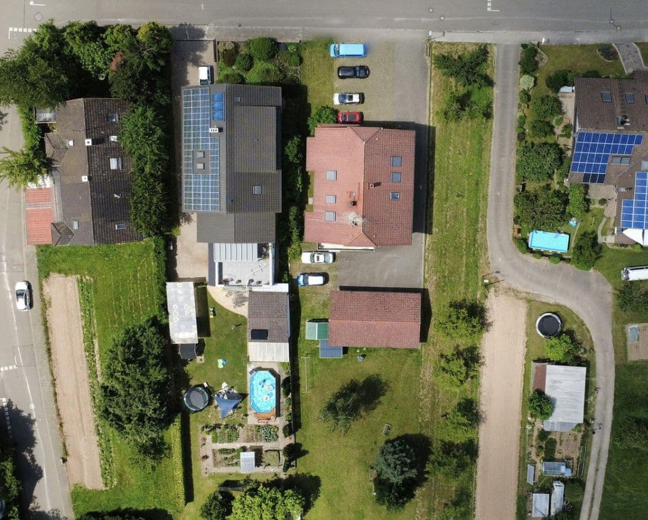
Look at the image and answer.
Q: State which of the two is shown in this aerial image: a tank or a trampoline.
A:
trampoline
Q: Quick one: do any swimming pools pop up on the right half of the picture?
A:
Yes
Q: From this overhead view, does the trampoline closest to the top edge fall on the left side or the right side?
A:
right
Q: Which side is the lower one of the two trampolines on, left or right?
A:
left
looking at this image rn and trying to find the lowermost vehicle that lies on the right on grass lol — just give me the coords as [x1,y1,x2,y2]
[620,264,648,282]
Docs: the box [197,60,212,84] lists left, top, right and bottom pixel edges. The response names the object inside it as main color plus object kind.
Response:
white vehicle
